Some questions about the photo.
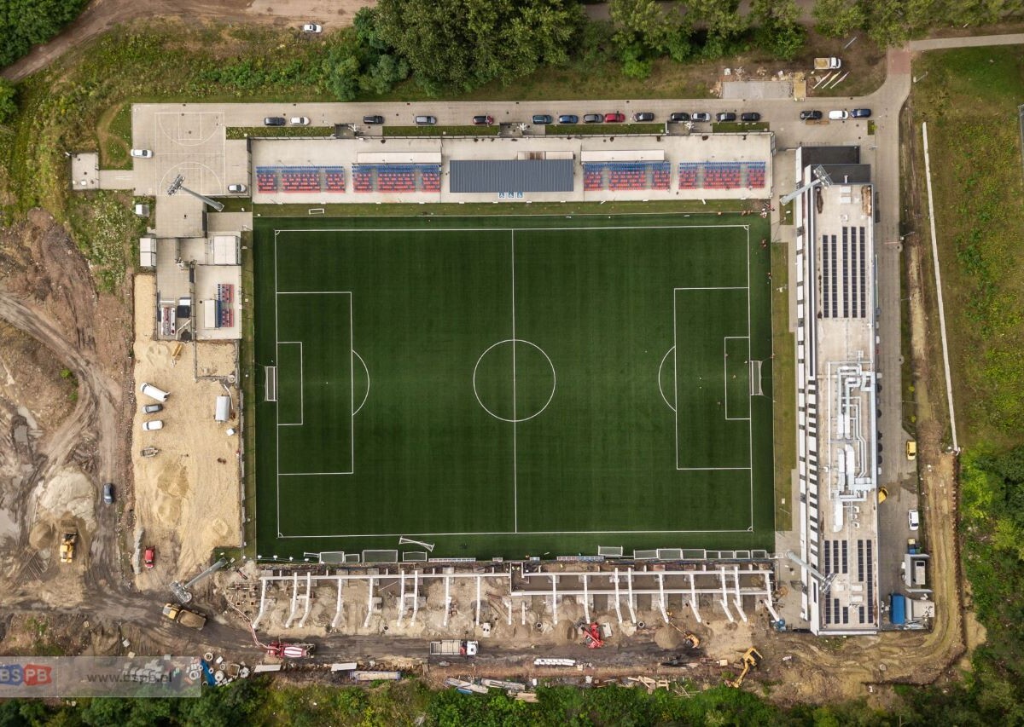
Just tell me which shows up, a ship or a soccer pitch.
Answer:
soccer pitch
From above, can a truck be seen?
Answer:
Yes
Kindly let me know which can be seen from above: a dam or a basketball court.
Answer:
basketball court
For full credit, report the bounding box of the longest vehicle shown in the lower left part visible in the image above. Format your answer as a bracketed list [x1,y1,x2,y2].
[228,601,314,659]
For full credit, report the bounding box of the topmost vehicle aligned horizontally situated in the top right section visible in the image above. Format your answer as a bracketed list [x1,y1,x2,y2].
[812,57,840,70]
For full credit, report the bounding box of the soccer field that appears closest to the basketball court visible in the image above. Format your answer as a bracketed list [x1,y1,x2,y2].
[255,211,775,561]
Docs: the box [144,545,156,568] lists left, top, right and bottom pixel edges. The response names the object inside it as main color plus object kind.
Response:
red vehicle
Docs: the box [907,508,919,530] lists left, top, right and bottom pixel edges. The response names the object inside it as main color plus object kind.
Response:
white vehicle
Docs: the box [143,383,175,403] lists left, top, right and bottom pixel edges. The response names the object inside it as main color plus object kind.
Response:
white vehicle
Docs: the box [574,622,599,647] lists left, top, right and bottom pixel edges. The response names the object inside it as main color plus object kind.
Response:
red work vehicle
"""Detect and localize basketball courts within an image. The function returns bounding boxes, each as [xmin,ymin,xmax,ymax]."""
[155,112,225,195]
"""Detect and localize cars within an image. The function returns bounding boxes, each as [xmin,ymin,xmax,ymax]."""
[605,112,624,123]
[826,109,849,120]
[633,111,655,122]
[474,114,493,125]
[142,420,165,430]
[690,111,712,122]
[103,482,114,504]
[290,115,309,126]
[303,23,323,34]
[142,403,165,414]
[559,114,578,124]
[739,111,761,122]
[415,114,437,125]
[714,111,737,122]
[907,508,919,530]
[799,109,822,120]
[264,115,287,126]
[668,111,690,122]
[532,113,553,125]
[583,114,603,123]
[363,115,384,125]
[904,438,917,461]
[228,183,248,193]
[849,107,872,118]
[131,148,154,159]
